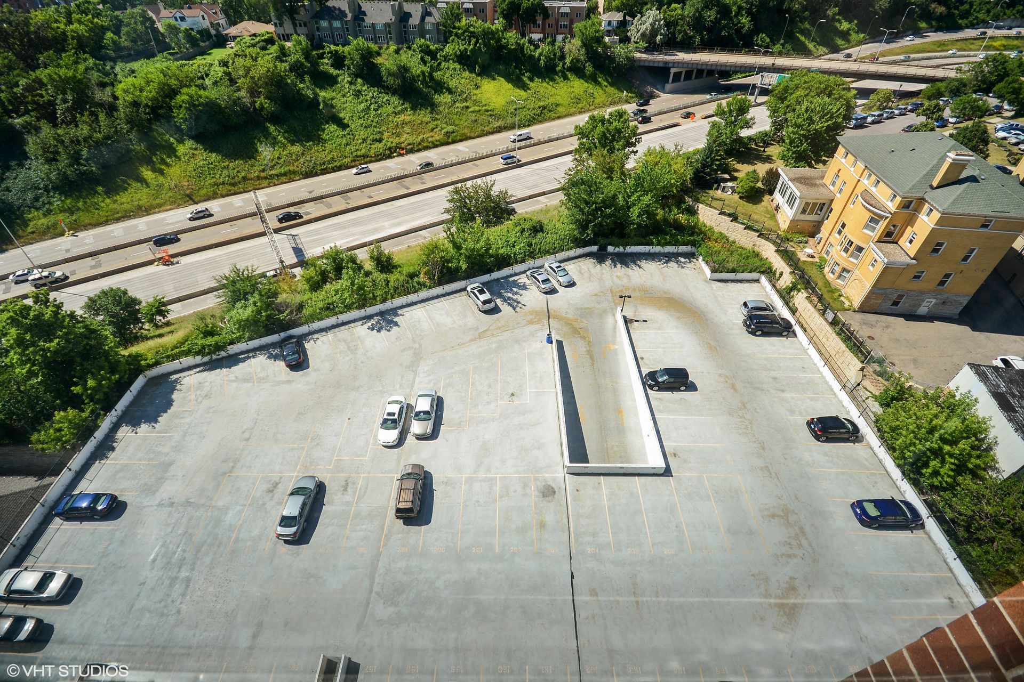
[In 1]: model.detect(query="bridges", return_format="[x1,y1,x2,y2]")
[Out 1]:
[627,37,964,87]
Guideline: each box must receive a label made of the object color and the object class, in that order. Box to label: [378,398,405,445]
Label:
white car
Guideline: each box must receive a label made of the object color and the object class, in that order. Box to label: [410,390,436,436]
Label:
white car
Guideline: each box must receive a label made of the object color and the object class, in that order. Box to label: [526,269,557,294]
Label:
gray car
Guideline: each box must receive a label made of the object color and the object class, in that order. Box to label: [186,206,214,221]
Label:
gray car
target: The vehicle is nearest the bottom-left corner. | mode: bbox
[0,611,51,648]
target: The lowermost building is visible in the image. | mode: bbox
[0,477,58,552]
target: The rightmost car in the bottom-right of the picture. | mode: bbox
[846,496,931,532]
